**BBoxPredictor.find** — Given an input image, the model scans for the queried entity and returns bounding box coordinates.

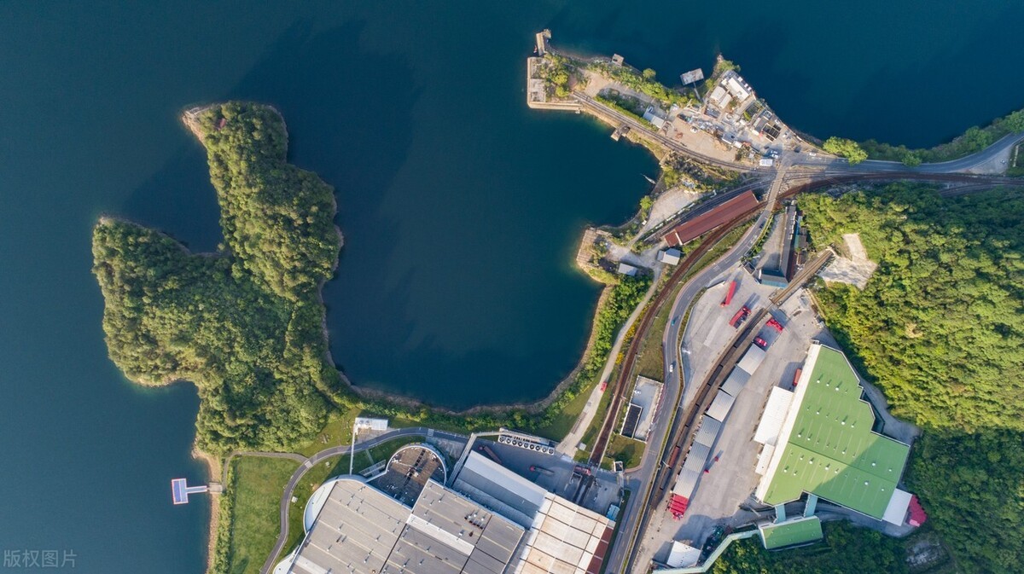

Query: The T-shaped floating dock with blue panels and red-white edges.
[171,478,208,505]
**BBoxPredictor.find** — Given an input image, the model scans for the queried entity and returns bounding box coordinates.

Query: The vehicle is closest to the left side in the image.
[480,443,502,464]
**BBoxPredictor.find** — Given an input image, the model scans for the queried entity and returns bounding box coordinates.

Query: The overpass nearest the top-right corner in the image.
[761,155,794,217]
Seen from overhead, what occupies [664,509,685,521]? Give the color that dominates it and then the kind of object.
red vehicle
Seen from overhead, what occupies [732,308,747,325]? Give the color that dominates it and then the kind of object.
red vehicle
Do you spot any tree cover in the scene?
Yes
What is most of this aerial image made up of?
water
